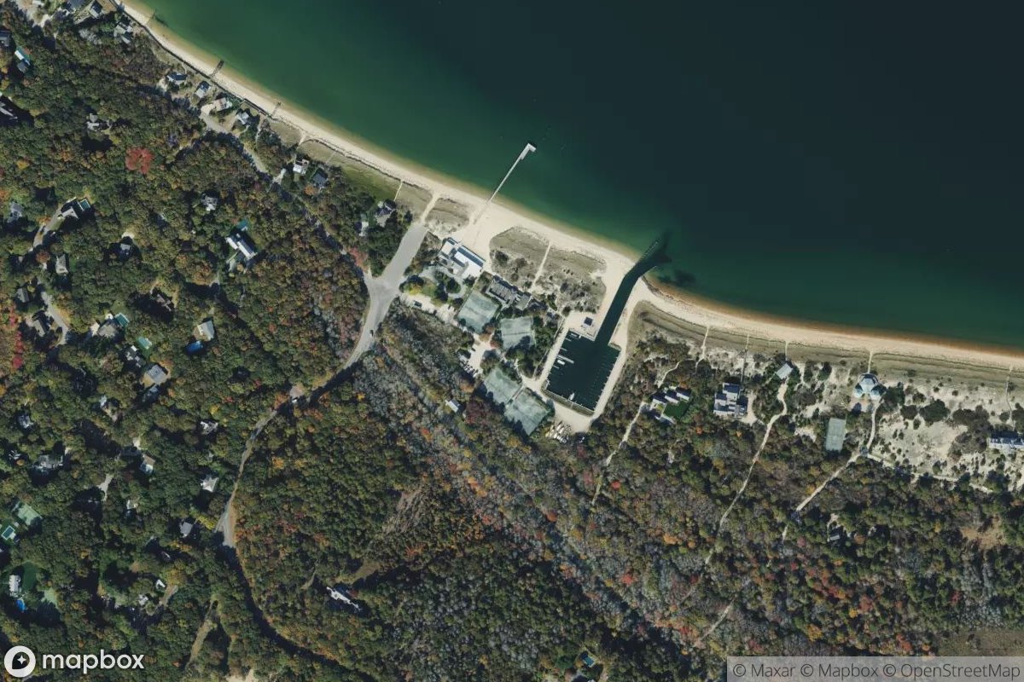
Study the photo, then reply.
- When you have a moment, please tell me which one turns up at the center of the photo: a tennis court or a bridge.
tennis court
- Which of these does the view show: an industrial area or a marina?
marina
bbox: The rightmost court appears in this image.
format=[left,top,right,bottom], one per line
[826,418,846,453]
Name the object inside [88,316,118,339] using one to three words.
house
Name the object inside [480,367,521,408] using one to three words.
tennis court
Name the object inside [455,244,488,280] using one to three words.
building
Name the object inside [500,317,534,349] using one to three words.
tennis court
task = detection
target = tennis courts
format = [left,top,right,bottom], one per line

[505,391,548,434]
[457,292,498,332]
[480,367,521,408]
[500,317,534,349]
[826,418,846,453]
[40,588,61,610]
